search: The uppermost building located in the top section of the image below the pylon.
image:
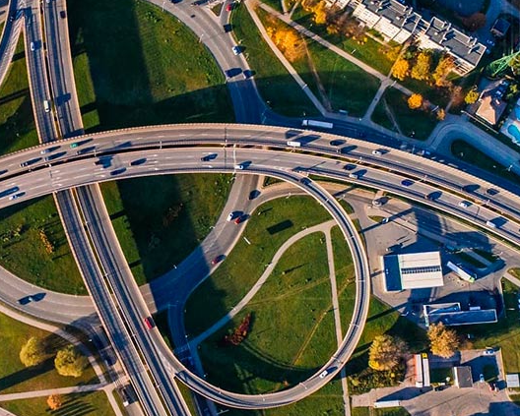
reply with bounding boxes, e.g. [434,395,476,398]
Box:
[469,92,499,125]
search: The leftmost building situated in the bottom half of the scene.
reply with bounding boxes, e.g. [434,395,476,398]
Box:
[380,251,444,291]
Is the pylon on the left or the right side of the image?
right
